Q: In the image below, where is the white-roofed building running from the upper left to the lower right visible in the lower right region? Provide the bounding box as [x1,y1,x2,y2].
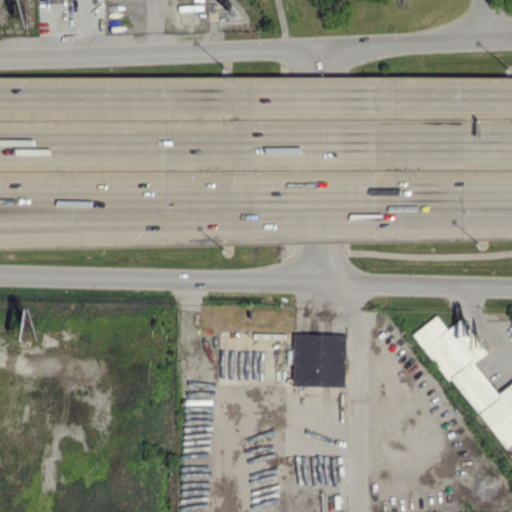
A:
[414,316,512,450]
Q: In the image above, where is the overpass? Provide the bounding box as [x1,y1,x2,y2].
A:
[283,78,351,244]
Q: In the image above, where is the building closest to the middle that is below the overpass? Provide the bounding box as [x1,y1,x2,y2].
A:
[294,333,346,386]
